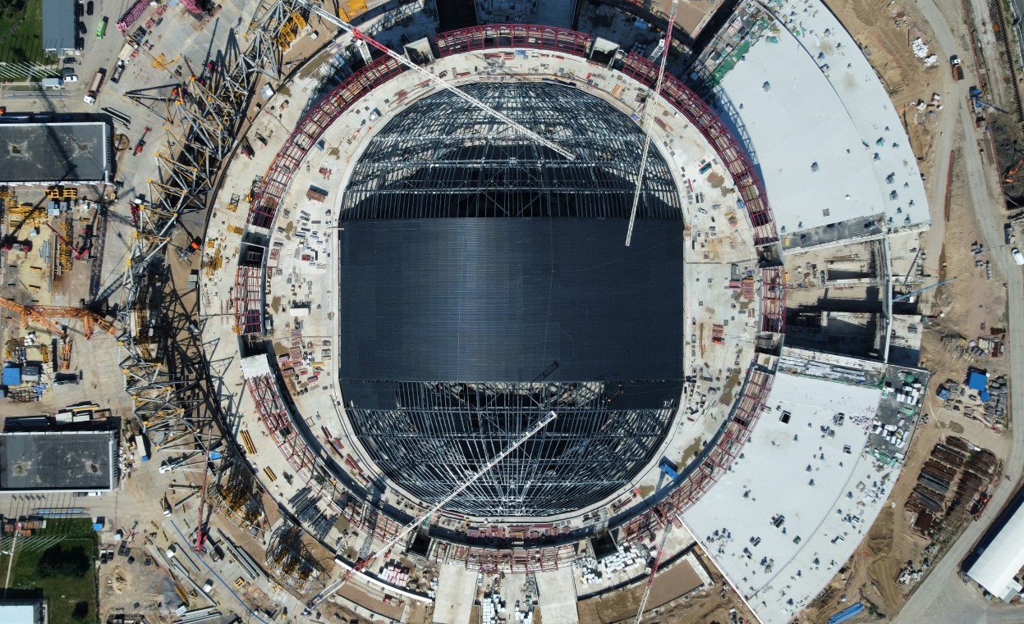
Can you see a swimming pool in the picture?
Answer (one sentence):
No, there appears to be no swimming pool in this shot.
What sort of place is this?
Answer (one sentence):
This image shows a sports ground.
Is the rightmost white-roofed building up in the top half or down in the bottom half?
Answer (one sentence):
Seen from above, the rightmost white-roofed building lies in the bottom half of the view.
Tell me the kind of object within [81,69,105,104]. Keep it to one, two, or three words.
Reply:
truck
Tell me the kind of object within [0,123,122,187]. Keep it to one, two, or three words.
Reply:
building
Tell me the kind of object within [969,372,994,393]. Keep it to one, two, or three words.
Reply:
building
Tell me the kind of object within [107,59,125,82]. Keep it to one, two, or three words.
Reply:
vehicle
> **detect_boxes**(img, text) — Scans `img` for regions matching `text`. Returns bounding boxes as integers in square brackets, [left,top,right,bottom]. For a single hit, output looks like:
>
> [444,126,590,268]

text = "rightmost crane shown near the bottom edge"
[633,522,672,624]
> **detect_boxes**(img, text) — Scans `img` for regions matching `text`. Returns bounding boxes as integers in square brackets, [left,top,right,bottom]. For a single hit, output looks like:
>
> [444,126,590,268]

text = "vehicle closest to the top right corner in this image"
[951,53,969,80]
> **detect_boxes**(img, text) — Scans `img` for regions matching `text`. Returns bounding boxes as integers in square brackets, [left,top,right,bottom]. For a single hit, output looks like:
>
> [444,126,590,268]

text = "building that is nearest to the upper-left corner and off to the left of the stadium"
[42,0,82,66]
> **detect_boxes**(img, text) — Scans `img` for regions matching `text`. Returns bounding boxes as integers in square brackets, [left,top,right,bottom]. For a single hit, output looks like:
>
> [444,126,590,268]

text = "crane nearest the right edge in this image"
[964,82,1009,116]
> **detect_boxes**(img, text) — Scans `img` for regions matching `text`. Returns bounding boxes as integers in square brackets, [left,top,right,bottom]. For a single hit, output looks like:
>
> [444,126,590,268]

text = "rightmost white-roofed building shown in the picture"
[954,470,1024,604]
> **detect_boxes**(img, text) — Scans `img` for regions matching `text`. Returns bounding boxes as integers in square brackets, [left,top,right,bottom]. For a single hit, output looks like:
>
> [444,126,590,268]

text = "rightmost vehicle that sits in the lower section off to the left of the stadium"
[130,435,148,464]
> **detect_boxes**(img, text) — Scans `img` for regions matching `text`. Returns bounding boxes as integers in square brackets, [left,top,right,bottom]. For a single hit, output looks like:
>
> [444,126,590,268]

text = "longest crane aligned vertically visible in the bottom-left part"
[188,423,222,570]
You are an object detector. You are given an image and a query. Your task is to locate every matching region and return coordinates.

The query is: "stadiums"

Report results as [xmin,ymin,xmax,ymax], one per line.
[193,0,930,624]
